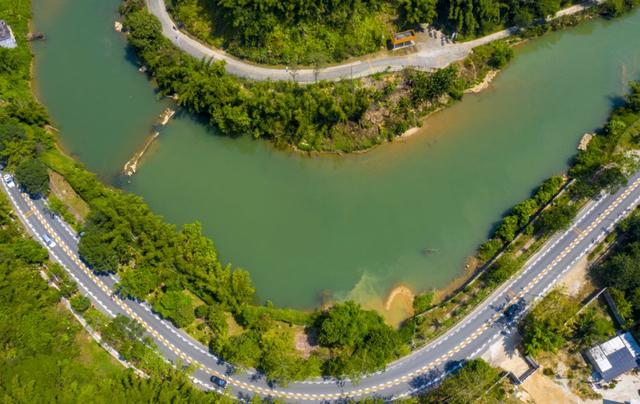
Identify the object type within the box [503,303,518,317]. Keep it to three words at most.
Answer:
vehicle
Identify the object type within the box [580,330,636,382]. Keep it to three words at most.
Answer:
house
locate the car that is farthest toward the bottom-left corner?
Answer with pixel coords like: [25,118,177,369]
[42,235,56,250]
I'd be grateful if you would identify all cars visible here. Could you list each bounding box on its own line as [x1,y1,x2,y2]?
[42,235,56,250]
[209,376,226,387]
[3,173,14,188]
[503,303,518,317]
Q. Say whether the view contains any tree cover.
Yes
